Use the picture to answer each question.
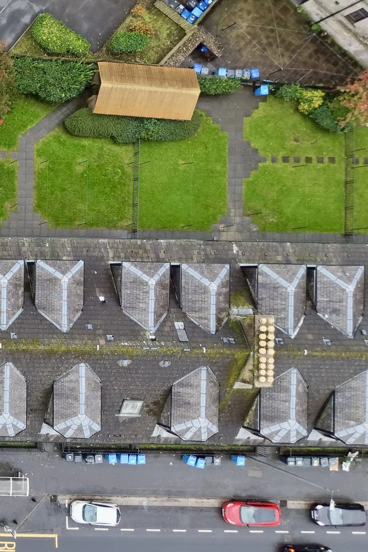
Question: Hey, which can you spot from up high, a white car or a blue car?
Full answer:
This aerial view contains a white car.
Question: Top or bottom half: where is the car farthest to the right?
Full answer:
The bottom half of the photo is where the car farthest to the right is.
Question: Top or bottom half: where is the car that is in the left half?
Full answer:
The car that is in the left half is in the bottom half of the image.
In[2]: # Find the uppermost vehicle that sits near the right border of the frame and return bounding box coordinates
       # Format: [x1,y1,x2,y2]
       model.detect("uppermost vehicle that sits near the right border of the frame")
[307,501,368,529]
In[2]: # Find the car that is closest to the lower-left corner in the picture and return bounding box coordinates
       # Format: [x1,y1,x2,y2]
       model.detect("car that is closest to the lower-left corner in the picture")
[68,498,122,527]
